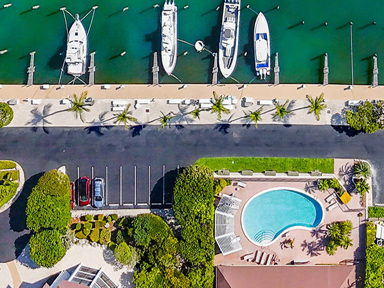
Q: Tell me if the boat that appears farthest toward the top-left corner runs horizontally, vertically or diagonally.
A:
vertically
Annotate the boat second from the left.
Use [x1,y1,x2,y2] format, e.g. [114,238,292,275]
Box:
[161,0,178,76]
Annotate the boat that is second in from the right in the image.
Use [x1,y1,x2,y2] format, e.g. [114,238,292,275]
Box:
[220,0,241,78]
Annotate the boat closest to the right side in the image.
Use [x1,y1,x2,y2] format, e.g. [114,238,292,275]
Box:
[253,13,270,81]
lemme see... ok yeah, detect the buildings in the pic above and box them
[216,258,354,288]
[44,259,122,288]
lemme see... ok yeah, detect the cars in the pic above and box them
[67,181,76,209]
[76,176,91,206]
[90,176,106,208]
